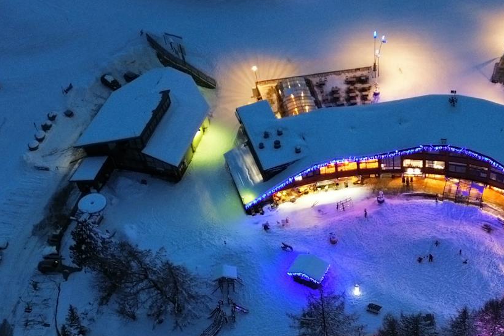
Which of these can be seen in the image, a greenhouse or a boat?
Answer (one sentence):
It is a greenhouse that can be seen here.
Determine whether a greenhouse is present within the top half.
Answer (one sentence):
Yes, within the top half there is a greenhouse.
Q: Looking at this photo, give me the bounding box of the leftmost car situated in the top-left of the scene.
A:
[99,70,122,87]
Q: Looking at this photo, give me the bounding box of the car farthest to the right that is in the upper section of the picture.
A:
[122,68,144,80]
